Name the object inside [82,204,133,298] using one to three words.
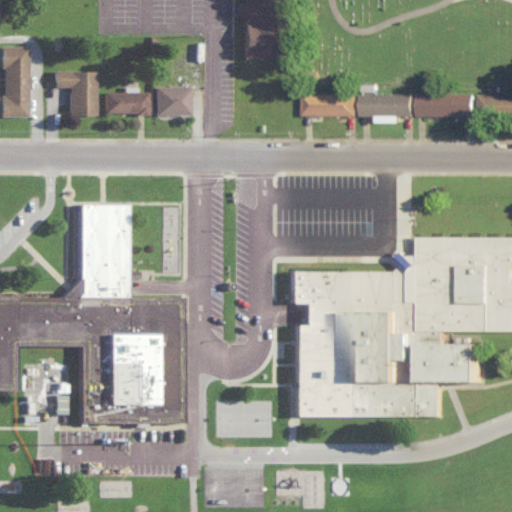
building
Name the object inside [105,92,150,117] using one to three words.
house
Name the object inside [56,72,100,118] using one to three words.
house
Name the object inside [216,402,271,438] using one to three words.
basketball court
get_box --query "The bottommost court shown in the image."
[206,462,262,507]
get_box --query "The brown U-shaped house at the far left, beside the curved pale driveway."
[4,48,31,118]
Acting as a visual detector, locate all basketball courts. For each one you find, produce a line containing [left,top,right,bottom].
[216,402,271,438]
[206,462,262,507]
